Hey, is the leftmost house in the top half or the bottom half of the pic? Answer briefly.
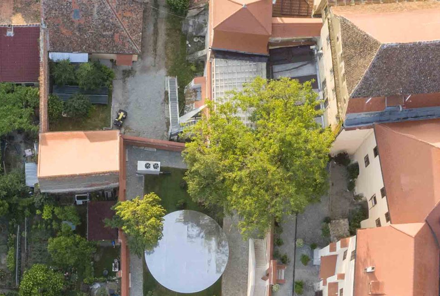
top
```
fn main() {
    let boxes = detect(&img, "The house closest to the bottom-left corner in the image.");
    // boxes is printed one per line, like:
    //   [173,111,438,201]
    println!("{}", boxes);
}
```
[38,130,120,191]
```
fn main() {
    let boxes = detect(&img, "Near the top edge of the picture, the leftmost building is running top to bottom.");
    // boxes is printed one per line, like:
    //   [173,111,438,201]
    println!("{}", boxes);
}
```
[0,0,40,86]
